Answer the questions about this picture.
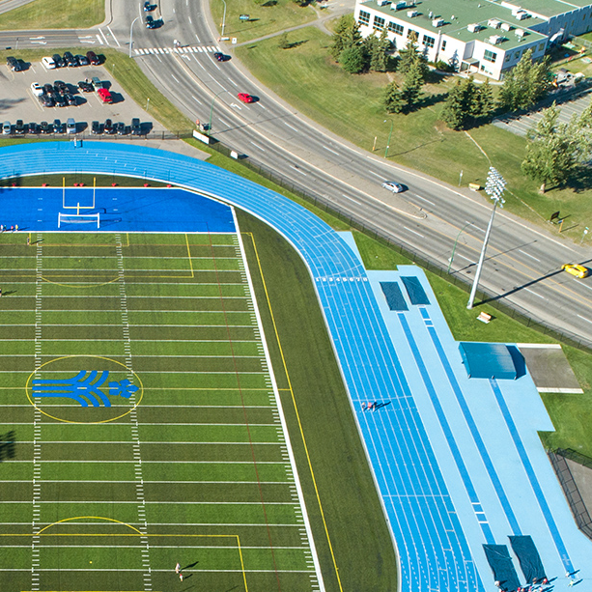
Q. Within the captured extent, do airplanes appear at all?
No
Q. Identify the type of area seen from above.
sports ground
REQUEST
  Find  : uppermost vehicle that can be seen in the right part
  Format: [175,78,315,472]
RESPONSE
[382,178,405,191]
